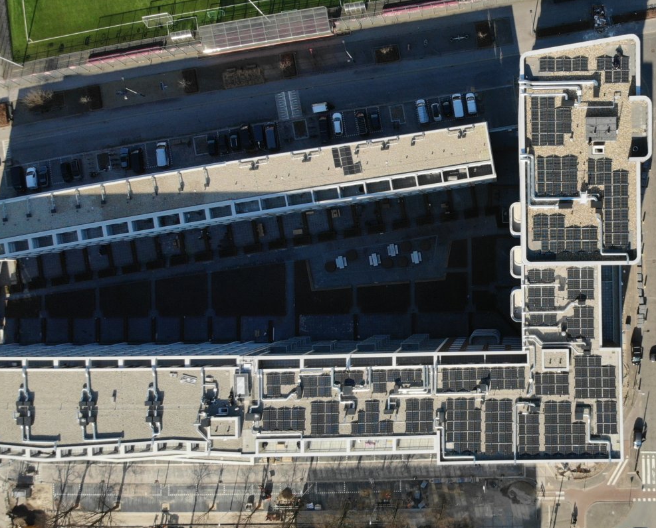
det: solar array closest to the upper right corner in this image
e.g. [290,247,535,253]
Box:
[596,59,628,84]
